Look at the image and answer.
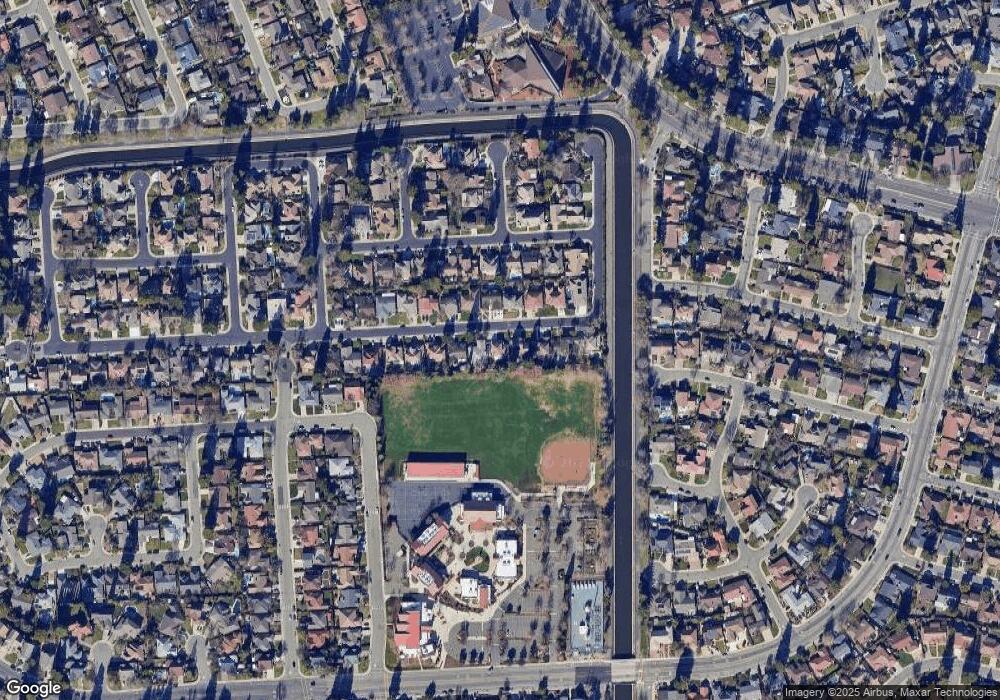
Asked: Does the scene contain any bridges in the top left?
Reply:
No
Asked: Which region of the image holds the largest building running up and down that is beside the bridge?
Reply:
bottom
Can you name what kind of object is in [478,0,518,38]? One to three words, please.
building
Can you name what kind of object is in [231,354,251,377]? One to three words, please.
house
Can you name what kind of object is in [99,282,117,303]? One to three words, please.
house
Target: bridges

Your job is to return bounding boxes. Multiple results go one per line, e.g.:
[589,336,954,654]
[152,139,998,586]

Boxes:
[611,658,636,684]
